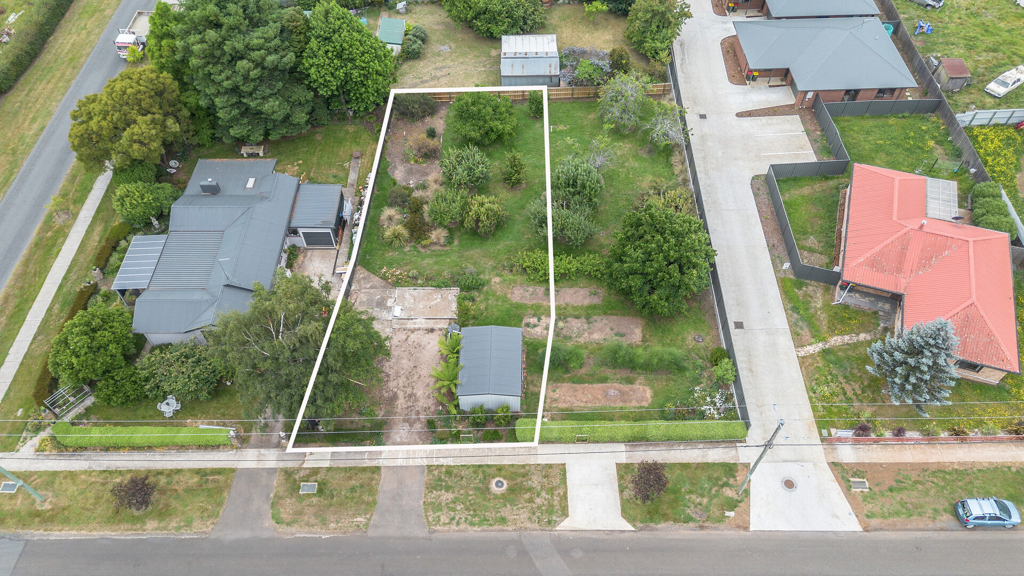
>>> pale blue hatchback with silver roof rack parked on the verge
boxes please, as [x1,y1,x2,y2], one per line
[950,493,1022,529]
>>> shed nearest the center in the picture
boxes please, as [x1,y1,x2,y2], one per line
[457,325,523,411]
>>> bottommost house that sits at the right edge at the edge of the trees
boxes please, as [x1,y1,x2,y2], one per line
[832,162,1022,384]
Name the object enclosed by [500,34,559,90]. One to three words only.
shed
